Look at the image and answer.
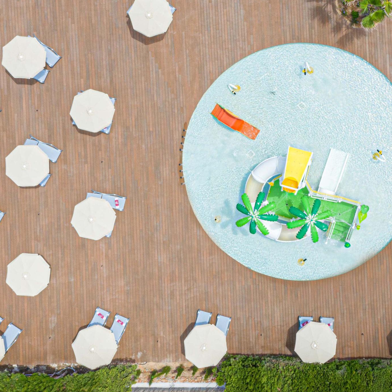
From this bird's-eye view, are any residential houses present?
No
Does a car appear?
No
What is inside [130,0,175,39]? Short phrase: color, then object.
white umbrella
